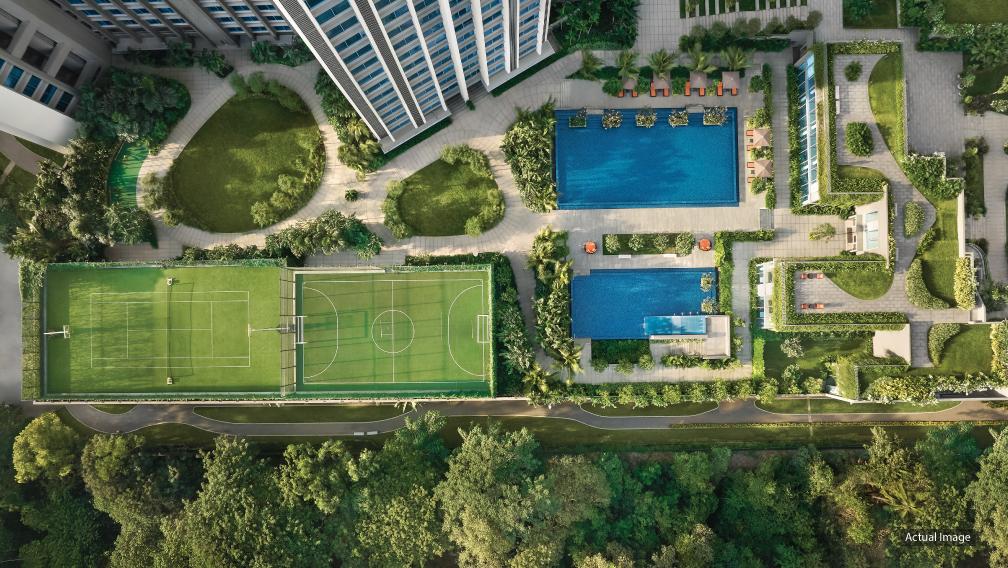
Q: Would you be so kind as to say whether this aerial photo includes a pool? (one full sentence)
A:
Yes, the picture does show a pool.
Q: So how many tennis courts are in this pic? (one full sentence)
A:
In total, there is 1 tennis court in the scene.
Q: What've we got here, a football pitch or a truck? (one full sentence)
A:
It is a football pitch that can be seen here.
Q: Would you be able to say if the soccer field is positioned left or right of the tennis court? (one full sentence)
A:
Relative to the tennis court, the soccer field is on the right.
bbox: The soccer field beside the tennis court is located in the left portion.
[297,268,491,397]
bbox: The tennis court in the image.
[45,263,295,399]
